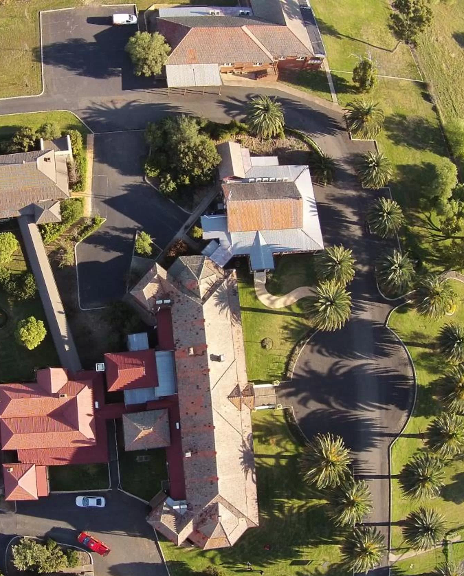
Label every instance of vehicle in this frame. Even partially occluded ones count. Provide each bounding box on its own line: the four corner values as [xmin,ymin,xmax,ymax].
[75,496,105,510]
[78,532,111,562]
[113,10,137,24]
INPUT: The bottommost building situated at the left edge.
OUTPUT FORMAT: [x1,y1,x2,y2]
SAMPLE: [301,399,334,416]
[3,463,51,500]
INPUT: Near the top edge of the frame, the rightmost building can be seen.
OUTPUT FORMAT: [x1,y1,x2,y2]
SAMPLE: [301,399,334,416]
[156,0,326,96]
